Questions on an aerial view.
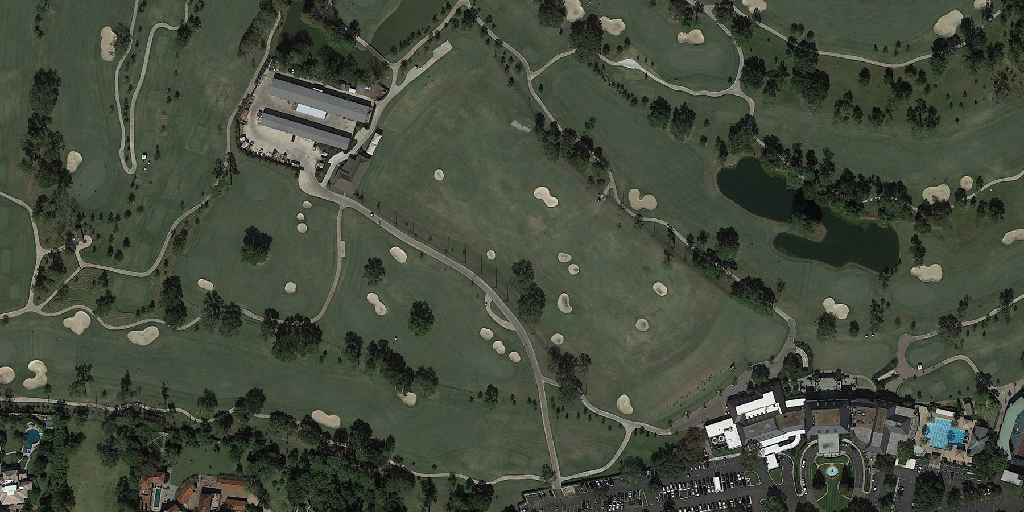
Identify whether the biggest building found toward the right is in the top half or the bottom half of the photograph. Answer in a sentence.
Seen from above, the biggest building found toward the right lies in the bottom half of the view.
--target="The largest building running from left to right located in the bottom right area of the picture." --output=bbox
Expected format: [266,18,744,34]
[705,380,917,469]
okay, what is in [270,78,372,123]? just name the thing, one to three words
shed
